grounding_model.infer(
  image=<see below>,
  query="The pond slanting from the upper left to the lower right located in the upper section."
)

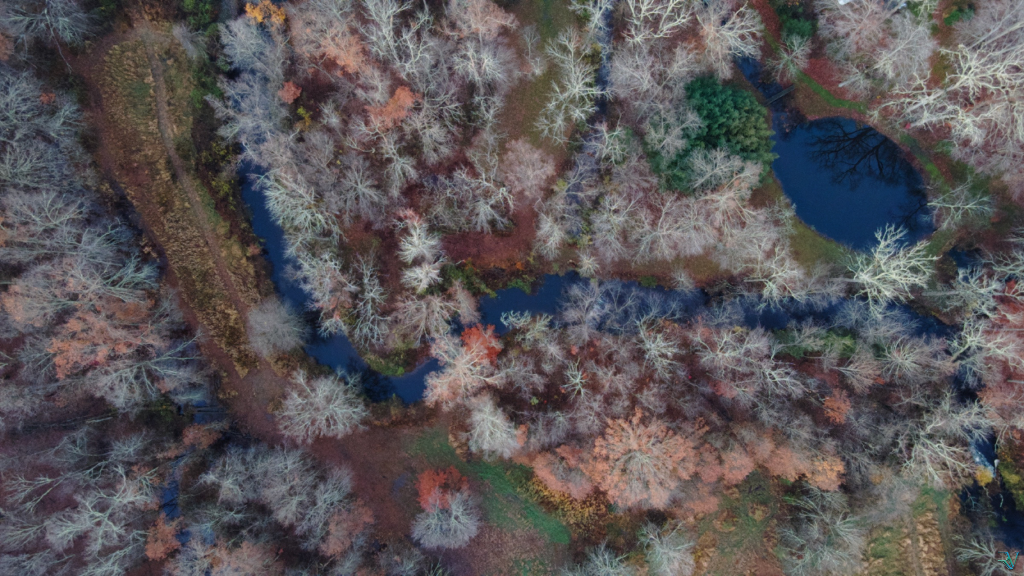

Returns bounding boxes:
[735,55,935,251]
